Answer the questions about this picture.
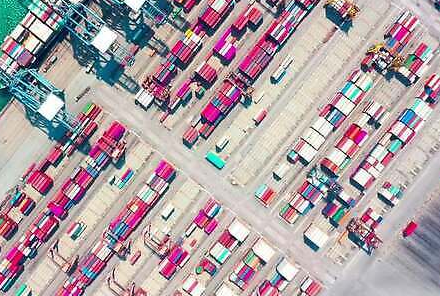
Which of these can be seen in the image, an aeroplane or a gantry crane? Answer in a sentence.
The image shows a gantry crane.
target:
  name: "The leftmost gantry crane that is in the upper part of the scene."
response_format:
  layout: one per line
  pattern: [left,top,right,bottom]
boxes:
[0,58,76,128]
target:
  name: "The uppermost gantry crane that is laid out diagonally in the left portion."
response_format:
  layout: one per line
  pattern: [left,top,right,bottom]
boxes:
[47,0,130,62]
